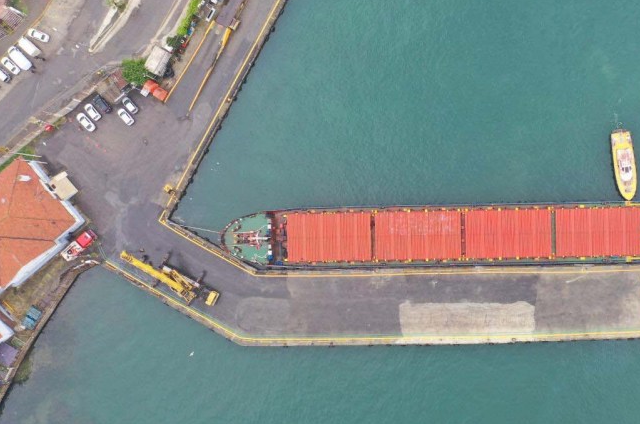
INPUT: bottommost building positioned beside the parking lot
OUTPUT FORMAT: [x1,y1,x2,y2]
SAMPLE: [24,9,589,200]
[0,157,84,294]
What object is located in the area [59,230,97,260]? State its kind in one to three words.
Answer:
truck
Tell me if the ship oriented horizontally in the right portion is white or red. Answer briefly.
red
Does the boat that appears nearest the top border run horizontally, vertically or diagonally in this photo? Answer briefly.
vertically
